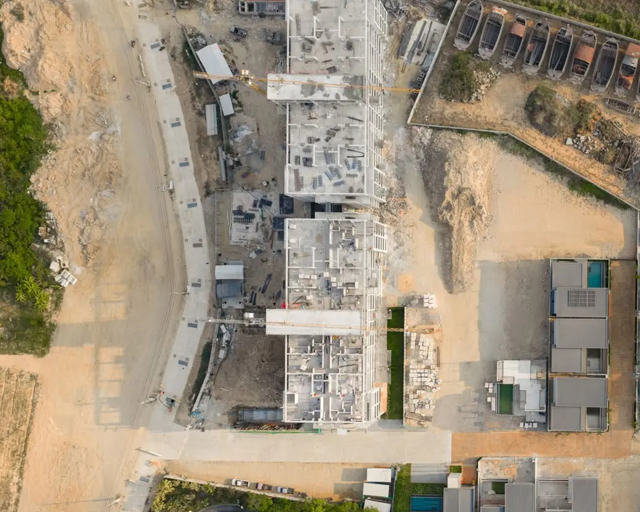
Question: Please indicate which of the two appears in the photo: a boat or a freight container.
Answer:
boat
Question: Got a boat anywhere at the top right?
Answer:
Yes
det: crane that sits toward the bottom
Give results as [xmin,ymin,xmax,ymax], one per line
[208,310,439,333]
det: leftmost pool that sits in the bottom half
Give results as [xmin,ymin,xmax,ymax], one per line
[410,497,441,512]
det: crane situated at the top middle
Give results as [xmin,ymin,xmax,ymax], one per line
[195,68,420,108]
